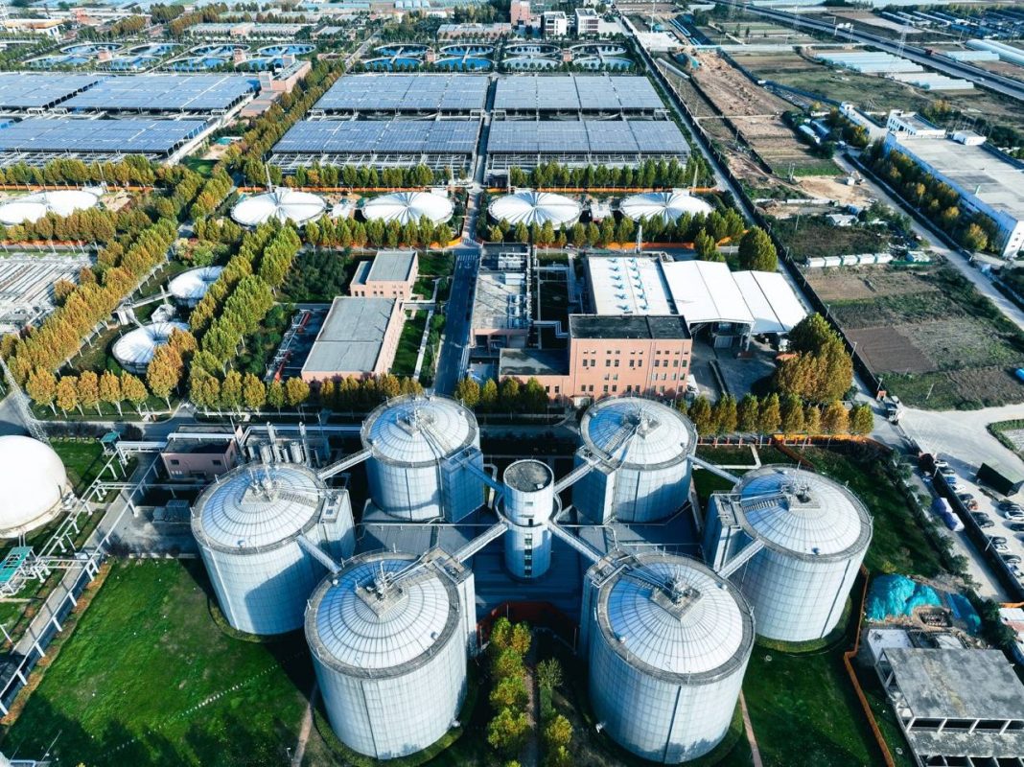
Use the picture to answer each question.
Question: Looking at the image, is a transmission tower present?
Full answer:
Yes, there's a transmission tower down there.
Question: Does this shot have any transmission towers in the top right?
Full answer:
Yes, there is a transmission tower in the top right.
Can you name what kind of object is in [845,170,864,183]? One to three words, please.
vehicle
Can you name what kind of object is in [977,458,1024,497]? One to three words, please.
shed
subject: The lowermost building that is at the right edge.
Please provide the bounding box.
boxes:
[859,648,1024,767]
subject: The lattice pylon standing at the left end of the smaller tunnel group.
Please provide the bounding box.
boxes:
[888,12,913,75]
